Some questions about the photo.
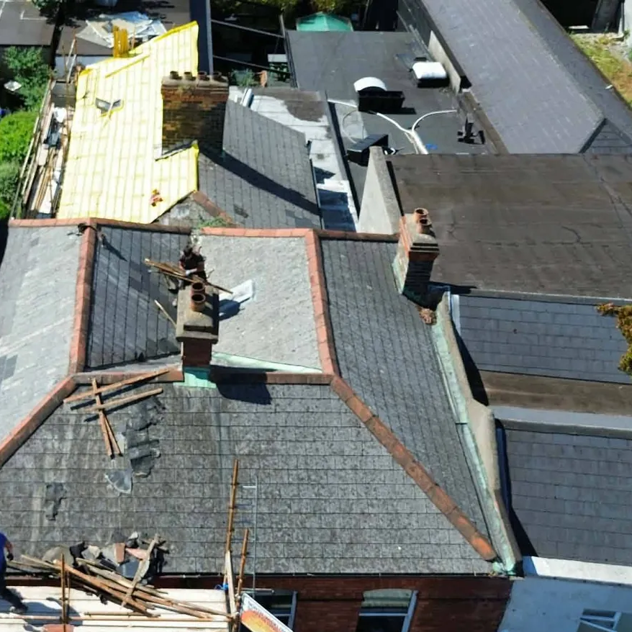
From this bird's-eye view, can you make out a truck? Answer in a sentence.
No, I can't see a single truck in this photo.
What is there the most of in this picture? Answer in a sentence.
For the most part, this view shows buildings.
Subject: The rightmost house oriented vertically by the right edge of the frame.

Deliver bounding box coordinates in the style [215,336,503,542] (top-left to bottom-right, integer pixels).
[389,154,632,632]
